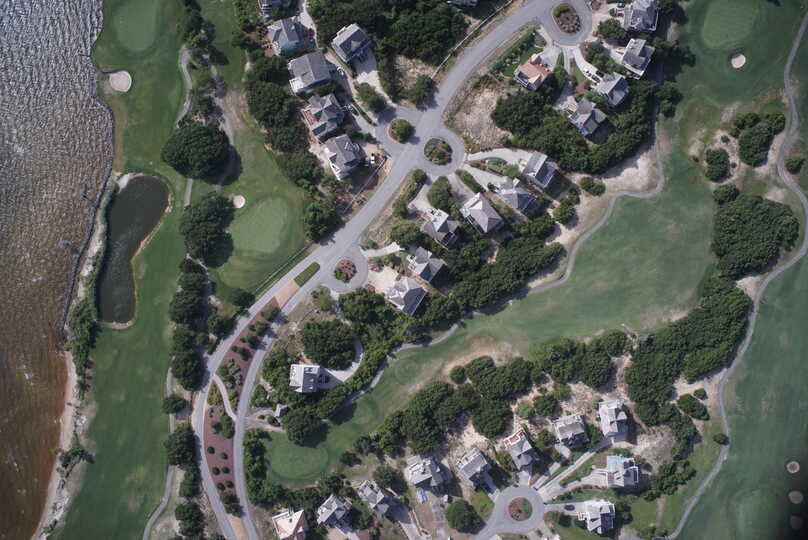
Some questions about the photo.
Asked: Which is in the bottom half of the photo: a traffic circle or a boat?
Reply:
traffic circle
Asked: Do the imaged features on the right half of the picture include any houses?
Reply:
Yes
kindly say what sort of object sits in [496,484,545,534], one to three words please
roundabout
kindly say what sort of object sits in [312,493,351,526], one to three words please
house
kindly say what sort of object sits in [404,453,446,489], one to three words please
house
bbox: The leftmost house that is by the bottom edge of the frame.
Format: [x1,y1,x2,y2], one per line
[274,502,312,540]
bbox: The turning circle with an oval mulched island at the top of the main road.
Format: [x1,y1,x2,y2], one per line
[537,0,593,46]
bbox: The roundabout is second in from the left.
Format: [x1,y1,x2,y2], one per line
[375,105,425,156]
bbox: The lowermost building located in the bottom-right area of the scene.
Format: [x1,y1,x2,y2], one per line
[578,497,615,531]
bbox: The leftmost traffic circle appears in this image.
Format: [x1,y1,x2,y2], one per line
[322,247,369,294]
